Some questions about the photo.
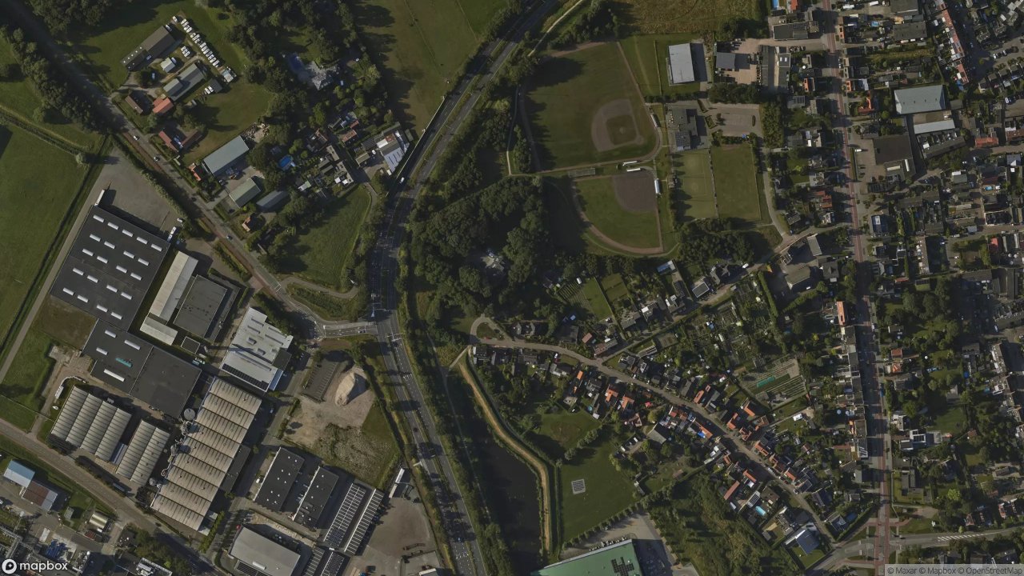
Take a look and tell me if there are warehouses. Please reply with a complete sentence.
Yes, there's a warehouse here.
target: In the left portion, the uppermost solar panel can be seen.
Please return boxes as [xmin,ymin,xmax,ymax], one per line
[225,364,268,390]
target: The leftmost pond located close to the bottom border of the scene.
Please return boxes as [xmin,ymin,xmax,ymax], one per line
[448,370,542,576]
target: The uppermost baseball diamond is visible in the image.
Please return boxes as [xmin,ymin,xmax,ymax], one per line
[522,40,662,173]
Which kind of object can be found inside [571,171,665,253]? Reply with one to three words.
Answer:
baseball field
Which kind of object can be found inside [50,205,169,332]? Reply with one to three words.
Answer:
warehouse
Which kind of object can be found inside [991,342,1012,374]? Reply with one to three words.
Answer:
house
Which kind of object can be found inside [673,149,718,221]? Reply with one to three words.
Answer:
sports field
